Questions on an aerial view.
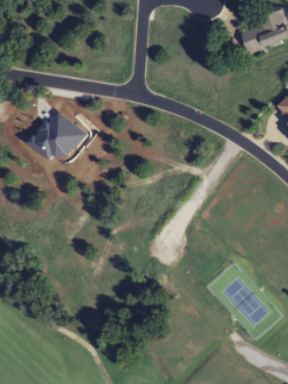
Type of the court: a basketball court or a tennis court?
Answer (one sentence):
I'd identify the court as a tennis court.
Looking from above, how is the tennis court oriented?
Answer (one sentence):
In this picture, the tennis court lies at an angle.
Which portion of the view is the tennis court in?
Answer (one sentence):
The tennis court is in the bottom right part of the image.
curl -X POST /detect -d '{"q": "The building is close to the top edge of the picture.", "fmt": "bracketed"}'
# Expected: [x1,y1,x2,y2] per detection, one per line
[242,8,288,53]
